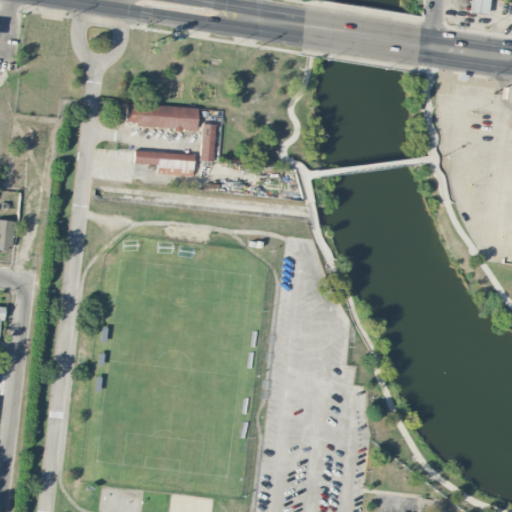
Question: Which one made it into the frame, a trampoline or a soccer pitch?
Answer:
soccer pitch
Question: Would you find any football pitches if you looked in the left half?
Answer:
Yes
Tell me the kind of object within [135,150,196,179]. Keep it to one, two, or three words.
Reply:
barn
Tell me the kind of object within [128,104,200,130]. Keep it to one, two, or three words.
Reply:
barn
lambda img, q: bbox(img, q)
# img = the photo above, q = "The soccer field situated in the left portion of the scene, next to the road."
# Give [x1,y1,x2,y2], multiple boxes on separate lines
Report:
[97,260,251,477]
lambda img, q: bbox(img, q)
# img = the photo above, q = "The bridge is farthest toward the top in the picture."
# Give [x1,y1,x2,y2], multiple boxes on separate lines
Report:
[304,0,420,71]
